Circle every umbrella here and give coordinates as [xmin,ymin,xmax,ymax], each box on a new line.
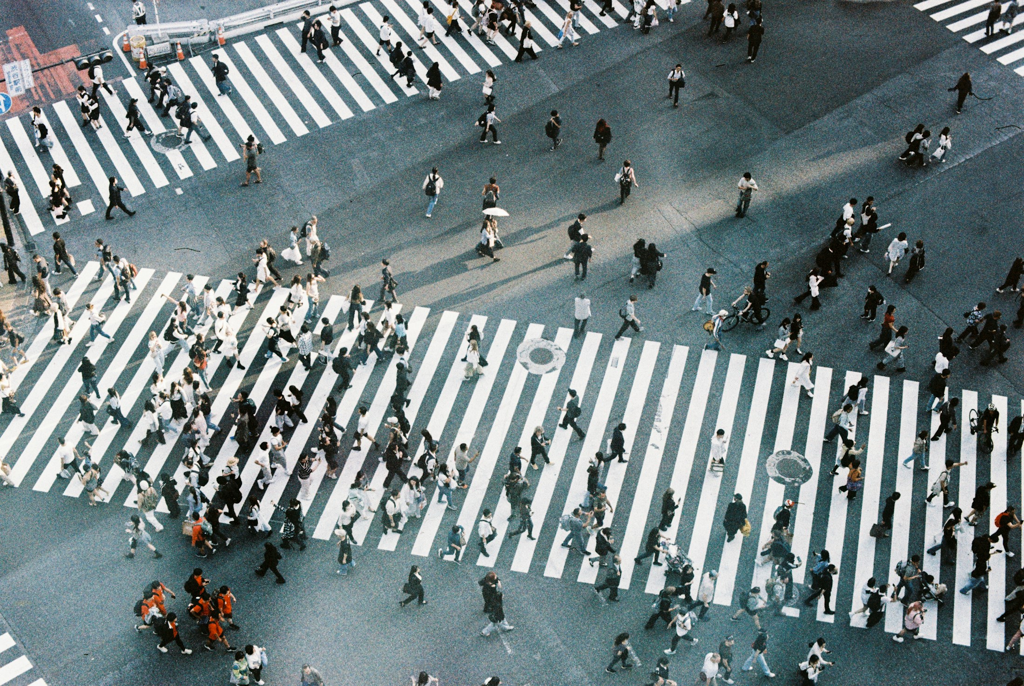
[480,207,512,221]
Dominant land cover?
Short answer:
paved ground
